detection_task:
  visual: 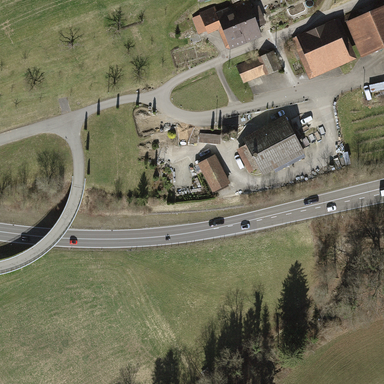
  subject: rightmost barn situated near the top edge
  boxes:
[345,5,384,57]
